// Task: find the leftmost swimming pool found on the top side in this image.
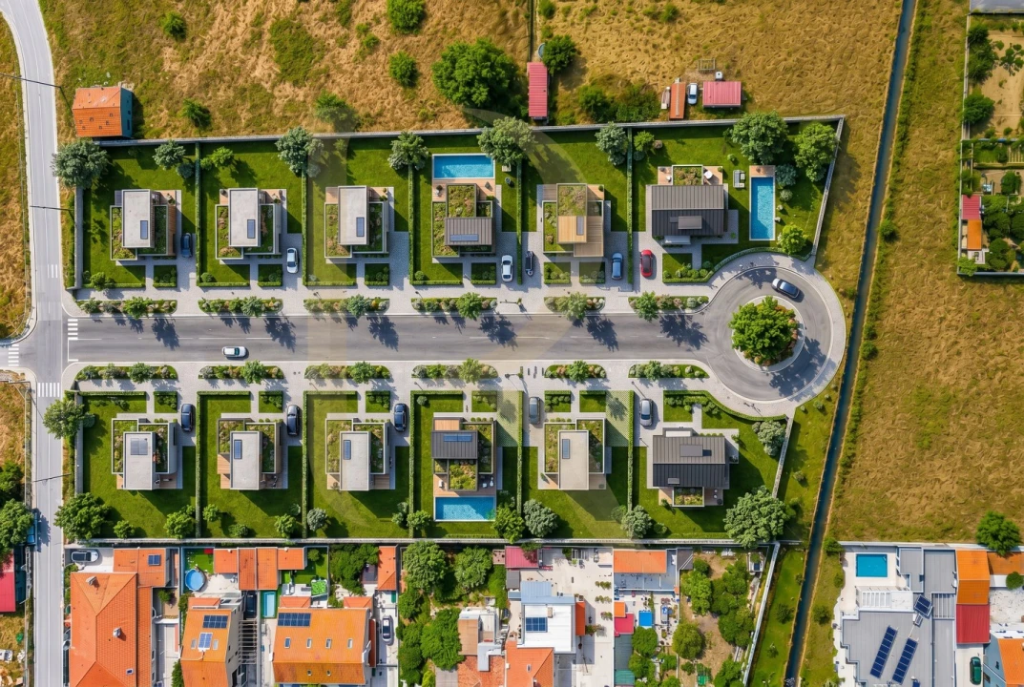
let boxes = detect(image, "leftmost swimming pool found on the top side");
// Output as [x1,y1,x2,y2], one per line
[432,153,495,180]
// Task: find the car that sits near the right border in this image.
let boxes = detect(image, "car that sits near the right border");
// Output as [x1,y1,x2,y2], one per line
[969,655,983,684]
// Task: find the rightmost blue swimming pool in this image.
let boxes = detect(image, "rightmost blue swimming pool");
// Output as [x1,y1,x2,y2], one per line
[856,553,888,578]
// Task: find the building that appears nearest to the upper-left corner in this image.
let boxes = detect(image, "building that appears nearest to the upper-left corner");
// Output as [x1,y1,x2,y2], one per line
[73,86,133,141]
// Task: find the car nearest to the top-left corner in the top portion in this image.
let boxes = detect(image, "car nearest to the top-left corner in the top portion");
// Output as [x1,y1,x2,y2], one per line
[180,232,194,259]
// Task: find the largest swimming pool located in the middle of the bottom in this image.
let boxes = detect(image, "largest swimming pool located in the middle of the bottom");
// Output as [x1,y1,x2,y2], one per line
[434,496,496,522]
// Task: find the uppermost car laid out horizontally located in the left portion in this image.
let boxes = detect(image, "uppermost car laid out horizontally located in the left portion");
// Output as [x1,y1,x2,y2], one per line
[223,346,247,358]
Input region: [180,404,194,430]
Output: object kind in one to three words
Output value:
car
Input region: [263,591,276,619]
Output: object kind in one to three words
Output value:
swimming pool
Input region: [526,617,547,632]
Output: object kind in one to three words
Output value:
solar panel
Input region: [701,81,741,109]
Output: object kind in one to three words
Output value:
shed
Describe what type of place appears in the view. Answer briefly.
residential area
